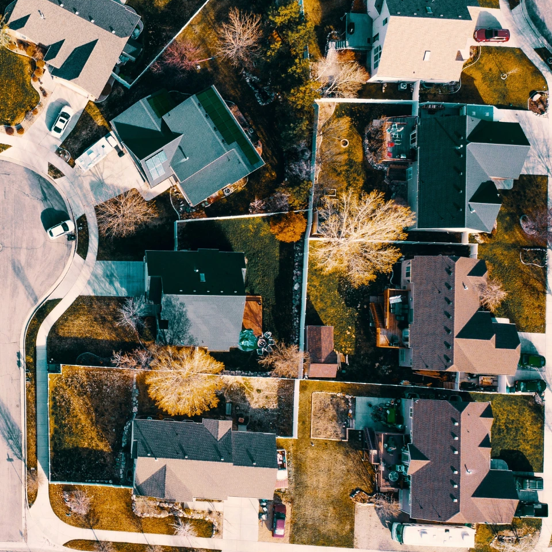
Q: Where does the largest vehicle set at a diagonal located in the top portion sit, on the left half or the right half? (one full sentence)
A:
It is on the left.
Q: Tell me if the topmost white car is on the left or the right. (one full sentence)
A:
The topmost white car sits on the left side.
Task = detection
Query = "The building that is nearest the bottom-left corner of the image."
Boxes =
[133,417,278,502]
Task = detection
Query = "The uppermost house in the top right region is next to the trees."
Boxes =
[360,0,480,88]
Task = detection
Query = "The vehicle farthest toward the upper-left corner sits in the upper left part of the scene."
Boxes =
[50,105,74,137]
